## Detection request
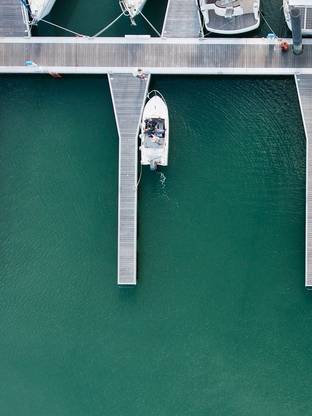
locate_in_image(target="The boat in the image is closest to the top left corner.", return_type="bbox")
[20,0,60,30]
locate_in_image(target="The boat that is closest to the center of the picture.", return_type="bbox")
[141,91,171,171]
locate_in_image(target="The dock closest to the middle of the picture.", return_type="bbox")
[108,74,152,286]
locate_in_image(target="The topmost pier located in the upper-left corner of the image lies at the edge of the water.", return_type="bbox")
[0,0,33,37]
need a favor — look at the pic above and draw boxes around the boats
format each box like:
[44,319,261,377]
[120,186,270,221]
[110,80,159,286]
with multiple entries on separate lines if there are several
[200,0,261,36]
[119,0,148,27]
[141,91,171,171]
[20,0,60,30]
[283,0,312,39]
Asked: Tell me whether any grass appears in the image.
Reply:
No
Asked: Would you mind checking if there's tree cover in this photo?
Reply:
No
